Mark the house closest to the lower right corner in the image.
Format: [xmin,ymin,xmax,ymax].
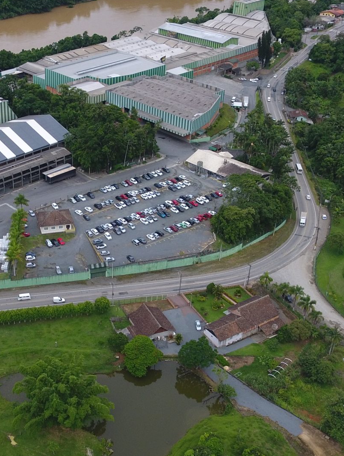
[200,291,287,354]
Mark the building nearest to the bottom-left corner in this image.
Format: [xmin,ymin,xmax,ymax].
[125,303,178,347]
